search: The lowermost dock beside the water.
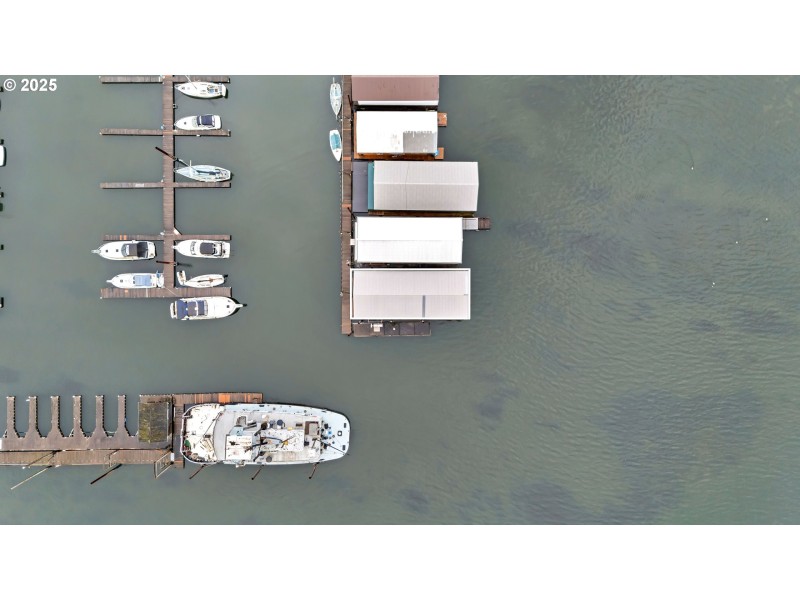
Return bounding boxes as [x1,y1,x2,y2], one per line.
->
[0,448,173,468]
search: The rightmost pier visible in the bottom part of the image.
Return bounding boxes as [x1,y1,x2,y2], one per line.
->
[138,394,264,466]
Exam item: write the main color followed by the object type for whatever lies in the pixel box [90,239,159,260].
white boat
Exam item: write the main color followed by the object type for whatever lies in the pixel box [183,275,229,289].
white boat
